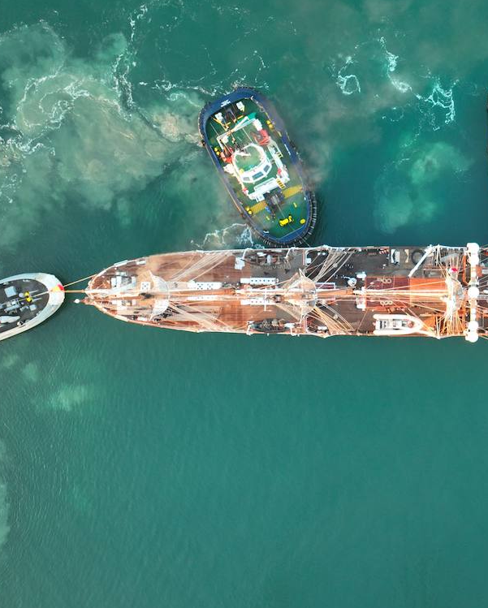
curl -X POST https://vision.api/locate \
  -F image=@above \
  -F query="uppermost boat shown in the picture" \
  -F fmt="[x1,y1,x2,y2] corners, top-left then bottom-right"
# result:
[198,89,317,247]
